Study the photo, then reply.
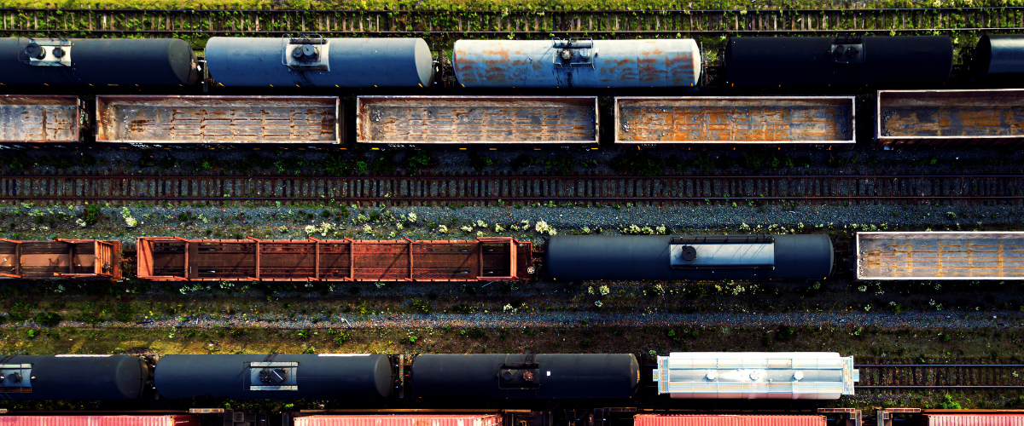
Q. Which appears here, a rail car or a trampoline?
rail car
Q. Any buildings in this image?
No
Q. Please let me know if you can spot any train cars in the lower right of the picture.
Yes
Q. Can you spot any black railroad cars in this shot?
Yes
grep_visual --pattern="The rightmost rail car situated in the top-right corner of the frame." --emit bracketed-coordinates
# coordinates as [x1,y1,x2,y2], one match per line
[952,34,1024,90]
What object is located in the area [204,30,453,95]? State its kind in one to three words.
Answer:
rail car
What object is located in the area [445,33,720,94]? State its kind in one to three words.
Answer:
rail car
